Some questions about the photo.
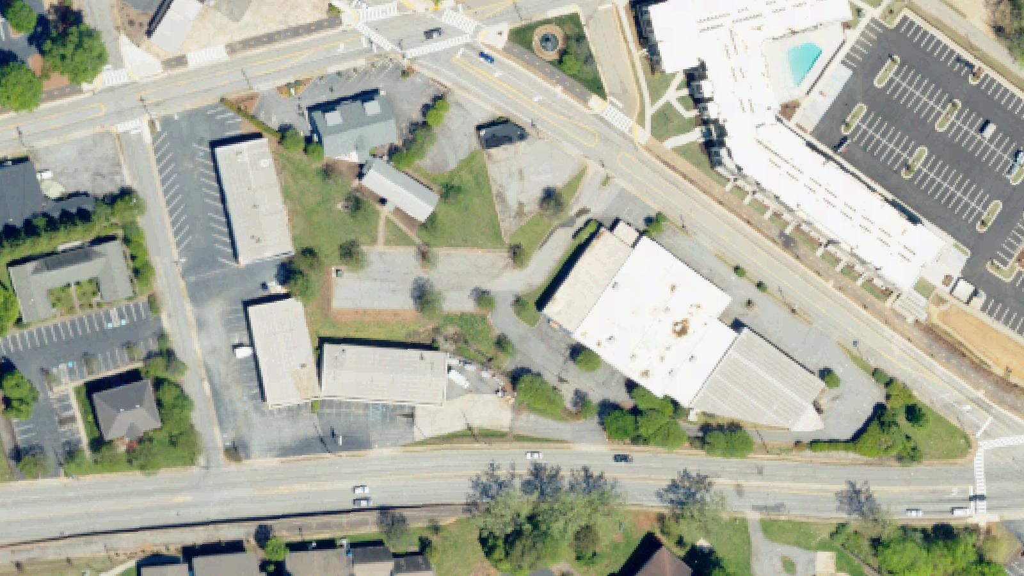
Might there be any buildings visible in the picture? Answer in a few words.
Yes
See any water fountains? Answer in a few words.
Yes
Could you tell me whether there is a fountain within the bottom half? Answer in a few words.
No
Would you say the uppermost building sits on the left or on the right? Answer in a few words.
left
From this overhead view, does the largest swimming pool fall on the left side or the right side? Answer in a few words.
right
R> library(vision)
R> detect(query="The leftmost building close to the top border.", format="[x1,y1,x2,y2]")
[149,0,209,55]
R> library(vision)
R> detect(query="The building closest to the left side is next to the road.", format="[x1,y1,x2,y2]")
[0,161,45,227]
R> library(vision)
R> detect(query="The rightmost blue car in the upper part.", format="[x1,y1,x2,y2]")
[479,52,494,64]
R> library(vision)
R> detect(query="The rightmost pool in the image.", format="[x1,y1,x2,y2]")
[786,40,825,90]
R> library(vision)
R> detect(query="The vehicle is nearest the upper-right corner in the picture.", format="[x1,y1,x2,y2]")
[982,122,995,138]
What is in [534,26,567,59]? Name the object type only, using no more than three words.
fountain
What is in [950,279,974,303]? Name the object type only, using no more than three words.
building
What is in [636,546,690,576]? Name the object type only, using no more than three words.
house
